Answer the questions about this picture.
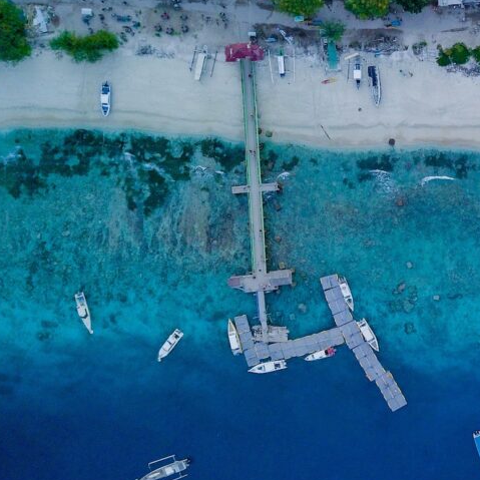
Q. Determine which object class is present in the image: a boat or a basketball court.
boat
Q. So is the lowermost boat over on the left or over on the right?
left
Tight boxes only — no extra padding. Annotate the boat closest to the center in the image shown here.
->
[228,319,242,355]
